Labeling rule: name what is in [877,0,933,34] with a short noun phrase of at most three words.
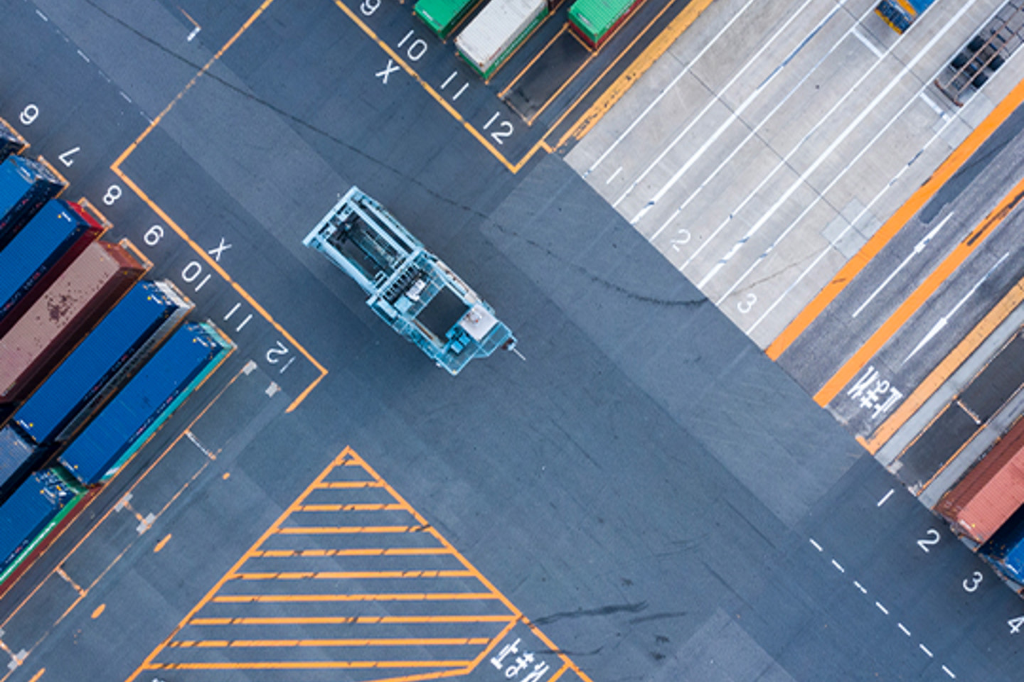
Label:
truck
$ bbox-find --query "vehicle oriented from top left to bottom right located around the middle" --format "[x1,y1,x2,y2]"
[302,187,526,376]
